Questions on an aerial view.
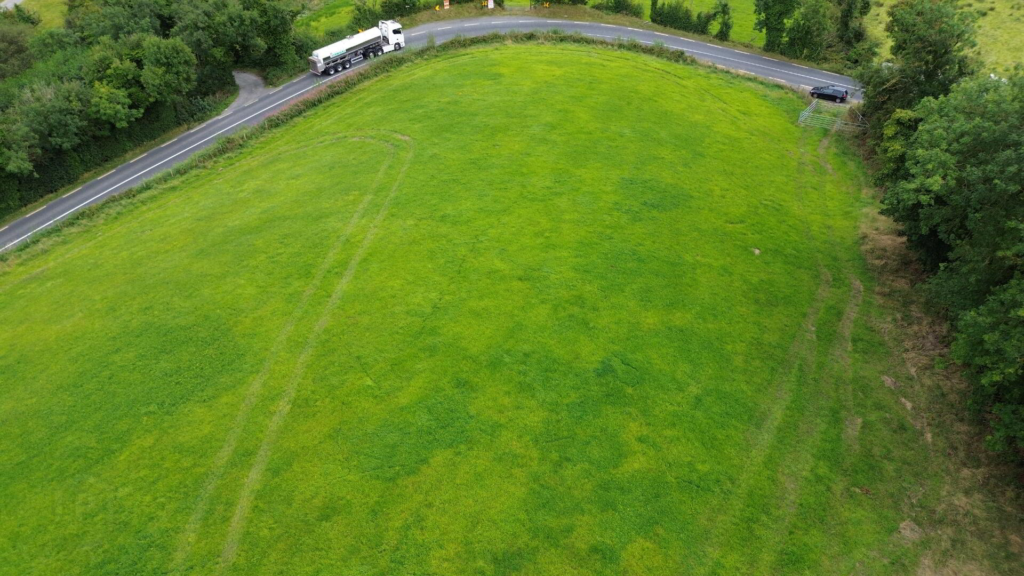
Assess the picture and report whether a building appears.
No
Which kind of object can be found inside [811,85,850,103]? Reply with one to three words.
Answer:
car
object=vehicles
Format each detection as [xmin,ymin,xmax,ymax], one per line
[307,16,405,76]
[811,85,850,103]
